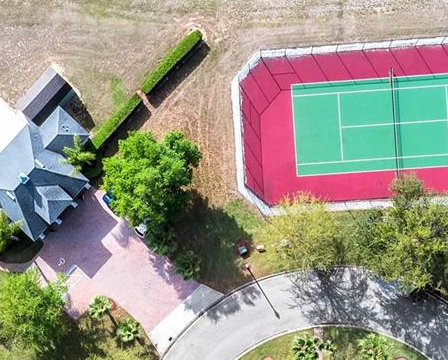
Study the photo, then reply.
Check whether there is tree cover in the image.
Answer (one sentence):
Yes, there's tree cover in this view.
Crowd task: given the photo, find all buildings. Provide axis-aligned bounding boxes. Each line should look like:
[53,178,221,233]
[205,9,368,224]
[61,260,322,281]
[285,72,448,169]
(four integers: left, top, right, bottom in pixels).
[0,106,98,242]
[15,65,69,121]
